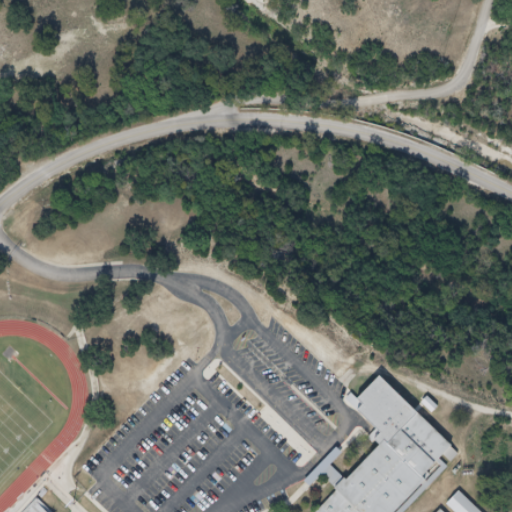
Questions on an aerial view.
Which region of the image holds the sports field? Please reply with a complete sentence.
You can find the sports field in the bottom left area of the picture.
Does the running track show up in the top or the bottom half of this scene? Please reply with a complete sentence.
The running track sits in the bottom half of the picture.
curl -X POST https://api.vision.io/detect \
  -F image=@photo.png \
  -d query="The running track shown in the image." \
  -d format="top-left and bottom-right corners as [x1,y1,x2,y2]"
[0,319,87,512]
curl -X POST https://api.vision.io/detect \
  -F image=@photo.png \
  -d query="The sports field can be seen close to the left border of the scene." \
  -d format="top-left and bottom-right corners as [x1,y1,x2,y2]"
[0,333,73,494]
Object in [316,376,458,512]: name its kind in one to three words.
building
